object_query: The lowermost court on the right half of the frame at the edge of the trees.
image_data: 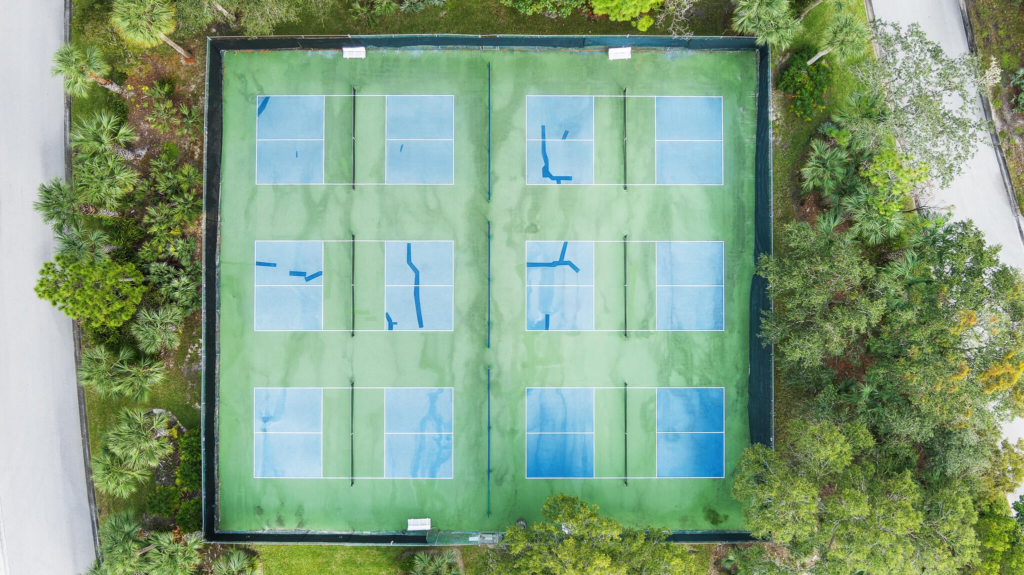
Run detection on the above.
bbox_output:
[526,388,725,478]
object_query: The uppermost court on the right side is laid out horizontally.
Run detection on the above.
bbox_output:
[526,95,723,185]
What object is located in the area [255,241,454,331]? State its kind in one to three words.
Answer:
sports court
